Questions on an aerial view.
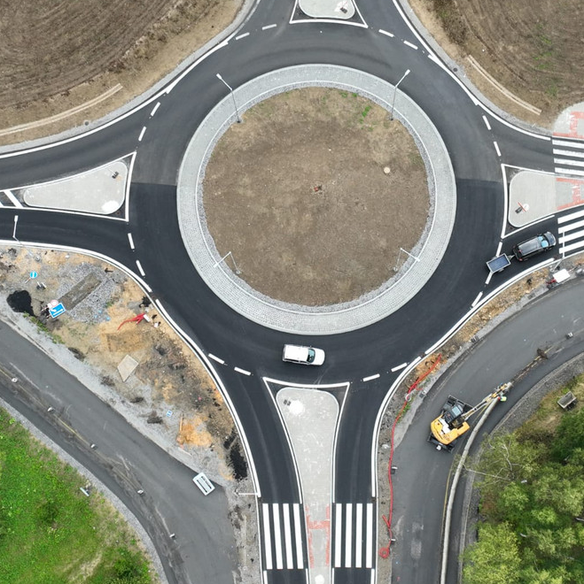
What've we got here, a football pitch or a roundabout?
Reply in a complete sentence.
Visible in the photo is a roundabout.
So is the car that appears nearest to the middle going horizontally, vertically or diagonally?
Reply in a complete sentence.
Seen from above, the car that appears nearest to the middle lies horizontally.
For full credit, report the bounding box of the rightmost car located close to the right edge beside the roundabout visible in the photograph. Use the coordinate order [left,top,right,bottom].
[511,232,556,262]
